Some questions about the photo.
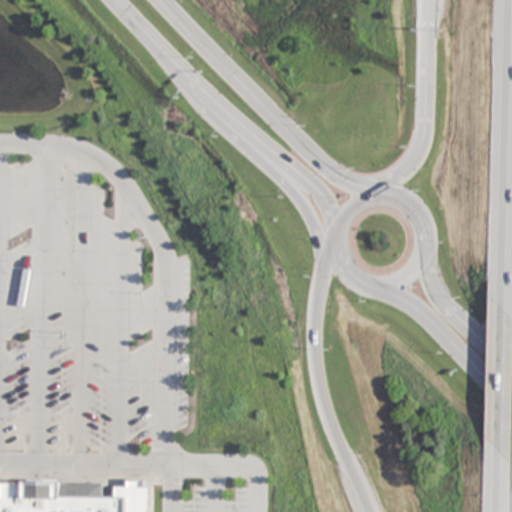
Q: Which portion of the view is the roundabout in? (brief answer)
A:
right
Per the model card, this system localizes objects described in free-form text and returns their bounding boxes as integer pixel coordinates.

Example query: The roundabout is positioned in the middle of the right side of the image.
[328,183,440,292]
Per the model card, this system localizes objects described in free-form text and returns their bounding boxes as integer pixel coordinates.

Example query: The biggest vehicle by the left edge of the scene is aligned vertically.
[18,260,32,306]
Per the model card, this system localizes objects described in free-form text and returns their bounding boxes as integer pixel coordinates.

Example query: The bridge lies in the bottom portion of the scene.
[484,267,512,455]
